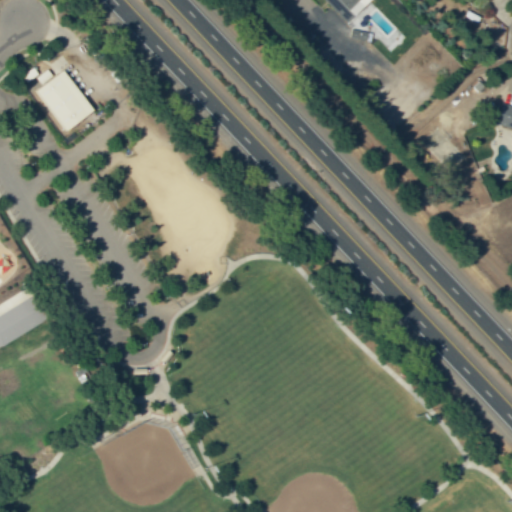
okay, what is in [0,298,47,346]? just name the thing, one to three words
building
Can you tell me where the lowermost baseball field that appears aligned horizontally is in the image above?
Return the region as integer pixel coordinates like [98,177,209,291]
[0,416,245,512]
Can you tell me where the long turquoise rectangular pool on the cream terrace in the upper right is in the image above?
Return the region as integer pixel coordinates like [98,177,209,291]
[373,12,394,35]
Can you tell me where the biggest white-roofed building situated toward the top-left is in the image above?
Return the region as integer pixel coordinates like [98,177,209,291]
[35,71,95,132]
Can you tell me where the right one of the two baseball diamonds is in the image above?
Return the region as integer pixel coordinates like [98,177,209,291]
[164,258,464,512]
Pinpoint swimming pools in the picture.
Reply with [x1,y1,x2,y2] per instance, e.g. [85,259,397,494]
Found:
[495,144,512,171]
[373,12,394,35]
